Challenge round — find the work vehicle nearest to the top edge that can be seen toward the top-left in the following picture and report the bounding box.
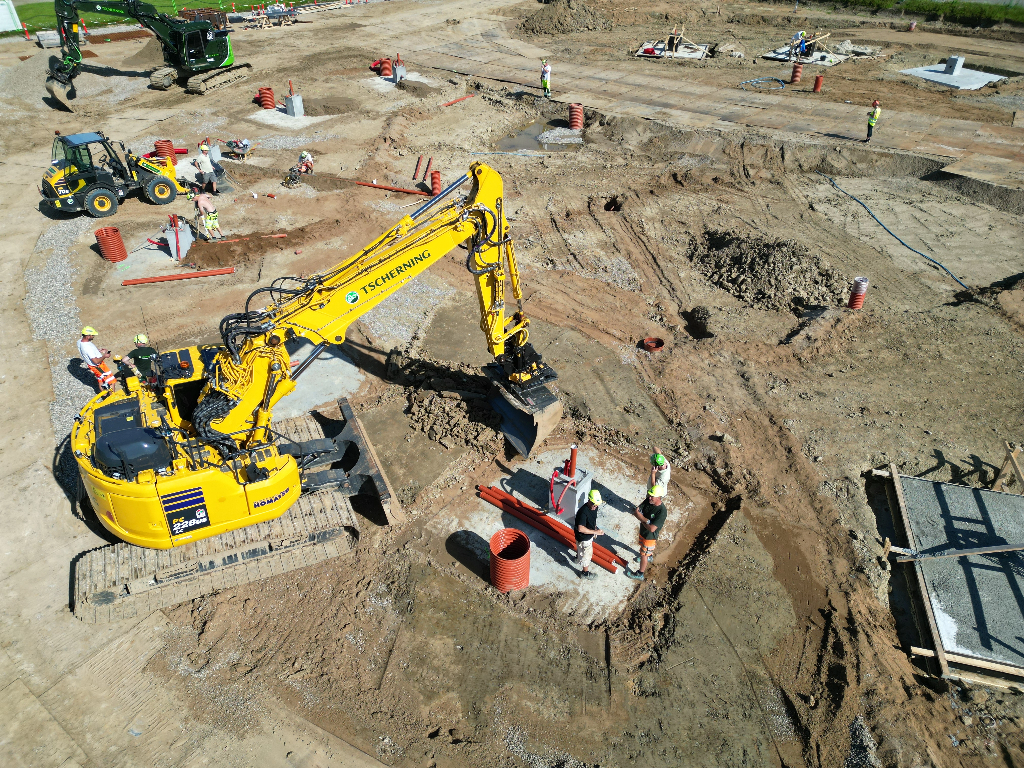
[46,0,255,108]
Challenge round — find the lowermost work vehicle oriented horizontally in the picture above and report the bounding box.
[30,124,227,223]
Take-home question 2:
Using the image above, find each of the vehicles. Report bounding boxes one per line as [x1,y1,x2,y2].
[46,0,255,108]
[66,158,568,616]
[30,124,227,223]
